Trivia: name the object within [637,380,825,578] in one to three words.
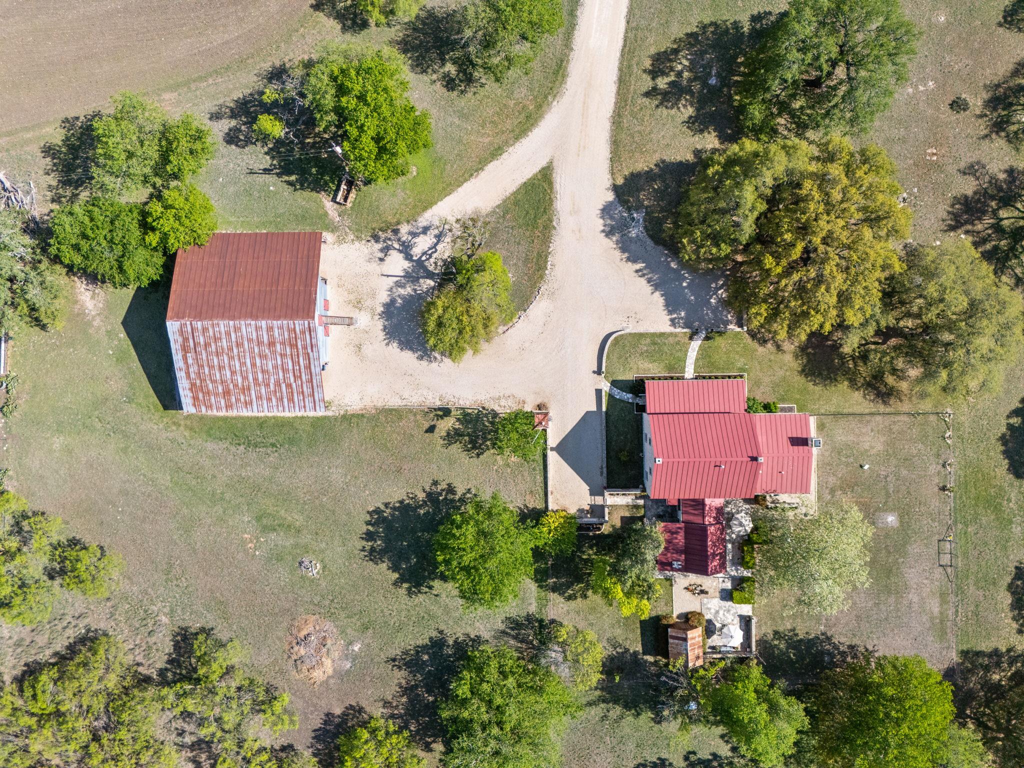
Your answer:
house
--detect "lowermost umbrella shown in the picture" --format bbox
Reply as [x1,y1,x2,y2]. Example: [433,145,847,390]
[719,622,742,646]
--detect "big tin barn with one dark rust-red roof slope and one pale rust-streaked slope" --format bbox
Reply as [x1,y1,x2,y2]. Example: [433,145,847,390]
[164,231,330,412]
